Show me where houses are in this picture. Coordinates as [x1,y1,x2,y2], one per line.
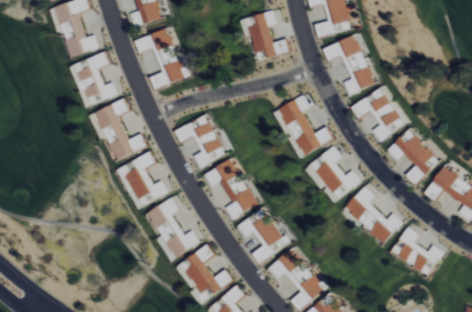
[310,286,360,312]
[264,242,329,312]
[171,246,232,304]
[68,52,122,106]
[305,0,362,36]
[305,144,366,203]
[272,92,336,158]
[391,223,448,276]
[318,30,382,98]
[169,112,234,170]
[116,150,173,206]
[348,82,414,144]
[124,0,170,26]
[46,0,100,58]
[200,152,266,222]
[206,282,258,312]
[145,194,206,260]
[87,100,146,162]
[130,23,192,90]
[341,182,408,243]
[385,128,446,186]
[237,10,293,62]
[234,203,293,264]
[424,158,472,224]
